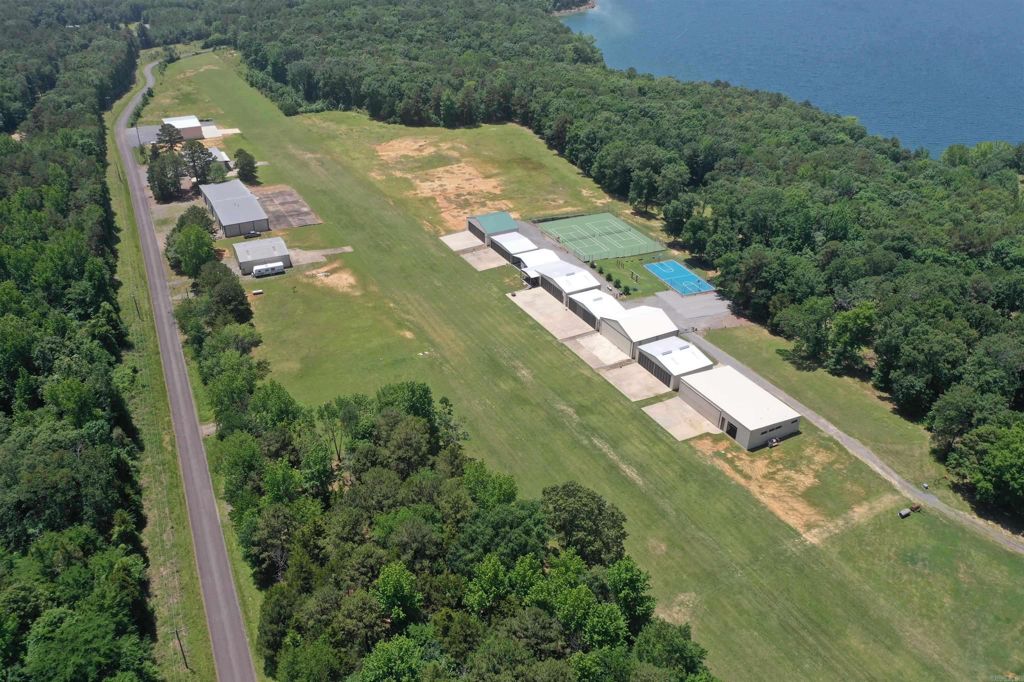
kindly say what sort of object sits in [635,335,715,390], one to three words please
hangar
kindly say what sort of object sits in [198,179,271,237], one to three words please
hangar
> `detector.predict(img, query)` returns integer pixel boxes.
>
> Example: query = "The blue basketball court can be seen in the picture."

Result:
[644,260,714,295]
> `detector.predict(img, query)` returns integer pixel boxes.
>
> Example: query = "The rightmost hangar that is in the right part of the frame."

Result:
[679,365,804,450]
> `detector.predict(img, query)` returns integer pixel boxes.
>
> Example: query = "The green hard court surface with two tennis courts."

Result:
[534,212,667,262]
